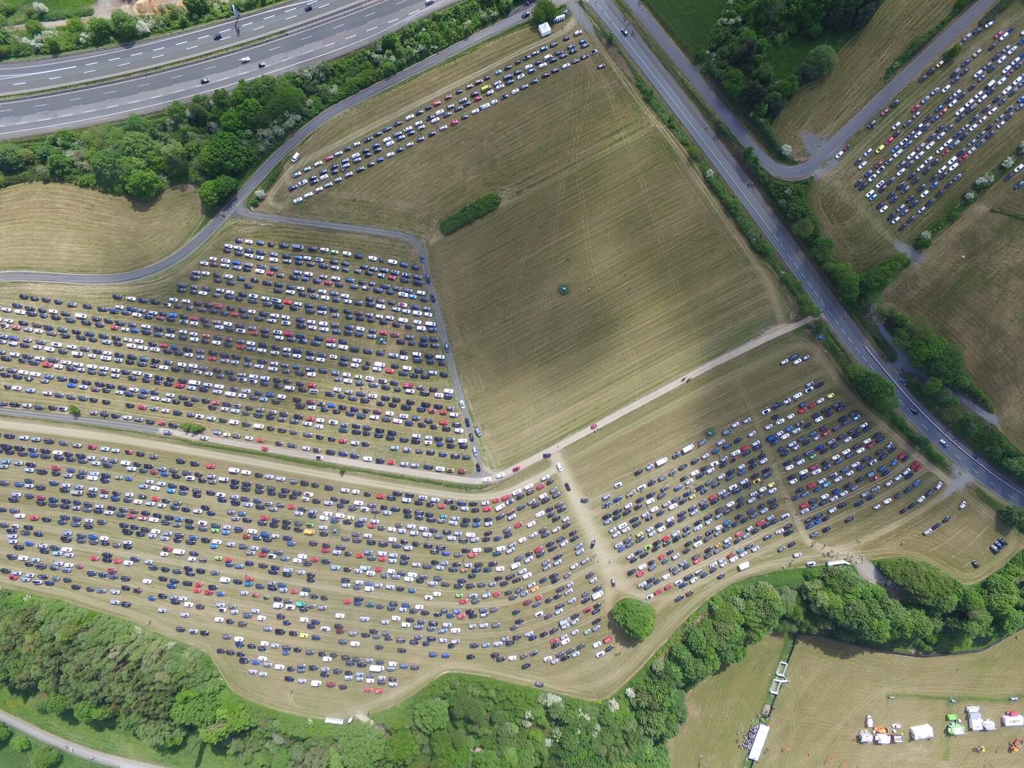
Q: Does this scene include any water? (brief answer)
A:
No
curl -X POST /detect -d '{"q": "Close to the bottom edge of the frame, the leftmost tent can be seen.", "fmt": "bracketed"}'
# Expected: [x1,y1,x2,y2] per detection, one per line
[748,722,769,760]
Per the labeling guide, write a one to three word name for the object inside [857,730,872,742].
gazebo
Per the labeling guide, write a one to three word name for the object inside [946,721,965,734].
gazebo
